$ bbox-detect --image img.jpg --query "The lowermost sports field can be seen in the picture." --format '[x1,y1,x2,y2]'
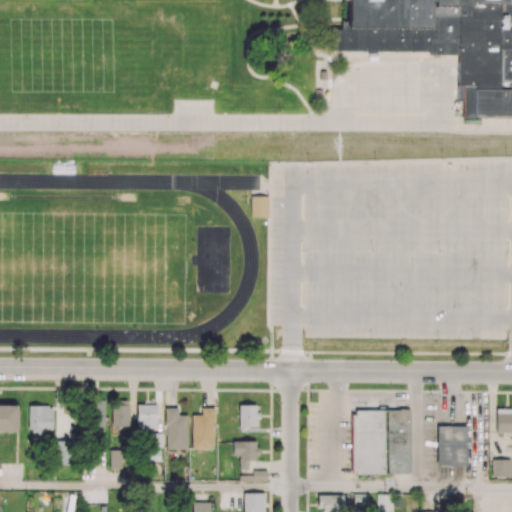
[0,211,190,326]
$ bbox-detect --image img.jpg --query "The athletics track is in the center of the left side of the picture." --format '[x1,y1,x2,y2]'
[0,174,259,344]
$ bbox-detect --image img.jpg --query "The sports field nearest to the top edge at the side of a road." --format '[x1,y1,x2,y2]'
[9,16,117,96]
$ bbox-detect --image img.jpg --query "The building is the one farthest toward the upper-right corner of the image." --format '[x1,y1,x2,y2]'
[338,0,512,123]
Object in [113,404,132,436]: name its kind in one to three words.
house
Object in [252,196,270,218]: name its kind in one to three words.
shed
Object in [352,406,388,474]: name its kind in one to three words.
building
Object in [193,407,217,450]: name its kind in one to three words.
house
